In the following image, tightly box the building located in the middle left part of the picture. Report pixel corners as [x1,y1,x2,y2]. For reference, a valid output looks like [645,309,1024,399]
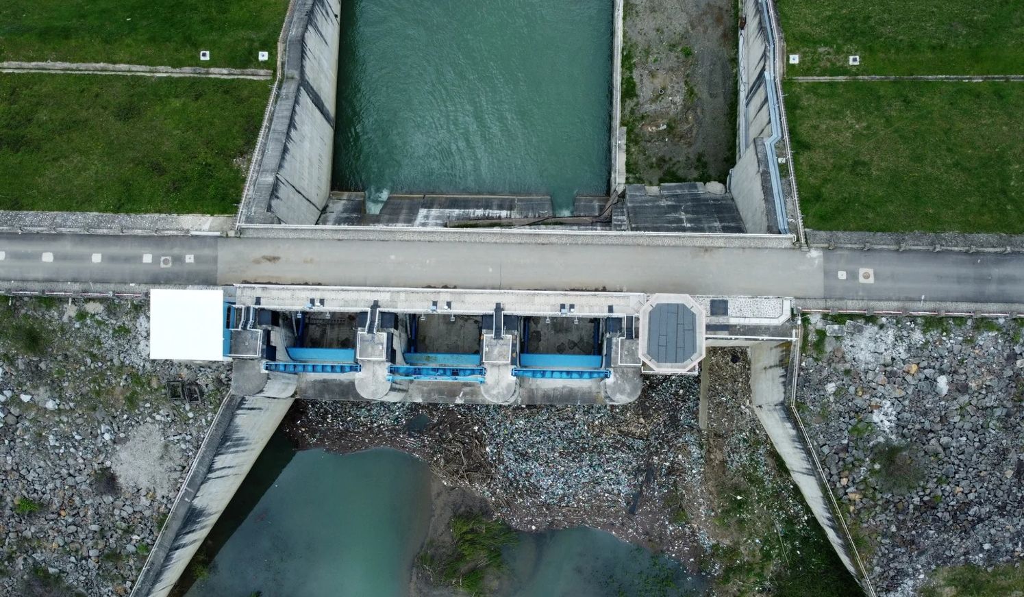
[151,286,242,362]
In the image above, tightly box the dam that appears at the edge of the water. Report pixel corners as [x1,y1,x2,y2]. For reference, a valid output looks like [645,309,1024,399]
[229,0,795,429]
